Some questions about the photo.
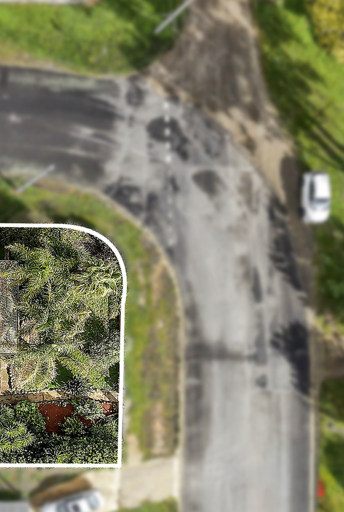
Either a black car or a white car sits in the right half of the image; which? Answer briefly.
white car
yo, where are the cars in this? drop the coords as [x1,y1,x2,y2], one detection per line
[297,169,331,225]
[39,487,105,512]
